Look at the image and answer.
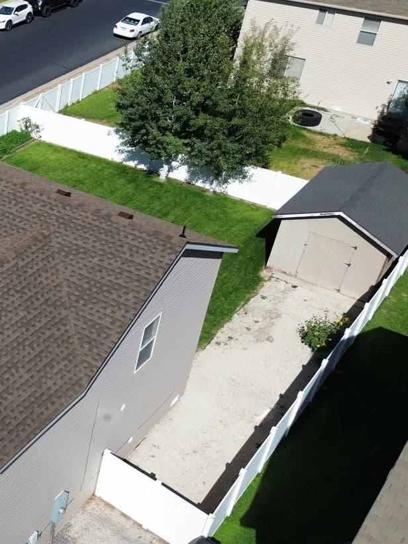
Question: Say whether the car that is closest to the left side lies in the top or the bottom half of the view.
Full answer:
You can find the car that is closest to the left side in the top half.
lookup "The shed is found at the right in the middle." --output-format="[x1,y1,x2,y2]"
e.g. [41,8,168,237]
[267,167,408,302]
